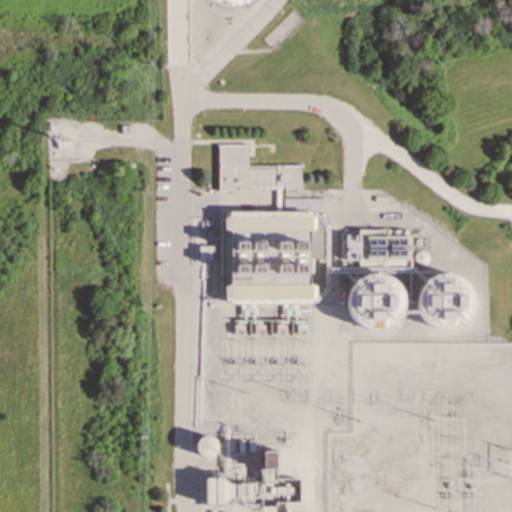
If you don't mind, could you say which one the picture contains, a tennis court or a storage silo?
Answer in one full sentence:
Looking from above, you can make out a storage silo.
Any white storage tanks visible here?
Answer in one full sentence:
Yes, a white storage tank can be made out from above.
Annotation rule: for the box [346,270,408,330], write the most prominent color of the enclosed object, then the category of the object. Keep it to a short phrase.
white storage tank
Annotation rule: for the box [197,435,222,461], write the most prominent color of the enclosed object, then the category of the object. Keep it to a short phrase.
white silo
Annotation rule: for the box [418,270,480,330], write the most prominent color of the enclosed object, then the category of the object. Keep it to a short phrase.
white storage tank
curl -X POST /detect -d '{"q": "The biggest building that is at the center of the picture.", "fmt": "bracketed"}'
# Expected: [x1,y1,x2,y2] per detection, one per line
[222,210,326,304]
